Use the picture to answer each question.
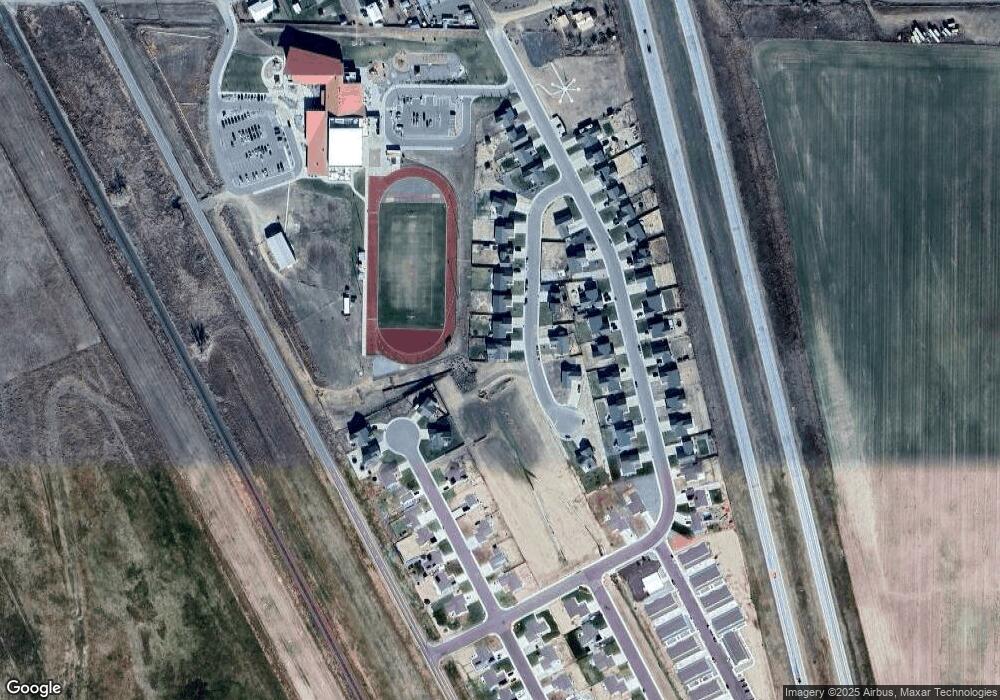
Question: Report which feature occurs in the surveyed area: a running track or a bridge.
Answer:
running track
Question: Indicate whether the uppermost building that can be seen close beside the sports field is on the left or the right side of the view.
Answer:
left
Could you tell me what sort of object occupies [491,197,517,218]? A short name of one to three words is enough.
house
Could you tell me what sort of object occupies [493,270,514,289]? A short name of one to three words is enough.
house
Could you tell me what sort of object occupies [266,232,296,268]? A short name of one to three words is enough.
barn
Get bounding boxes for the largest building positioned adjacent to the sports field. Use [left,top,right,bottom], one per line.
[283,46,367,175]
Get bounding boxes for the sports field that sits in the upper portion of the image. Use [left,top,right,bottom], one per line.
[379,203,445,327]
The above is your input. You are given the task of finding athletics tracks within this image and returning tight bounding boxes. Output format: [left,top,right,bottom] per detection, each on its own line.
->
[367,166,457,363]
